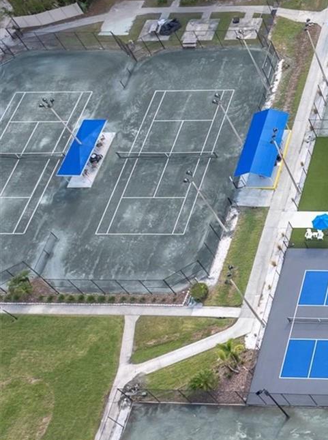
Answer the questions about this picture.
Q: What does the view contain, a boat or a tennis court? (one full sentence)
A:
Of the two, only a tennis court appears.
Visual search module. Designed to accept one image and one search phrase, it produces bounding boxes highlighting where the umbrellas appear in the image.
[312,212,328,233]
